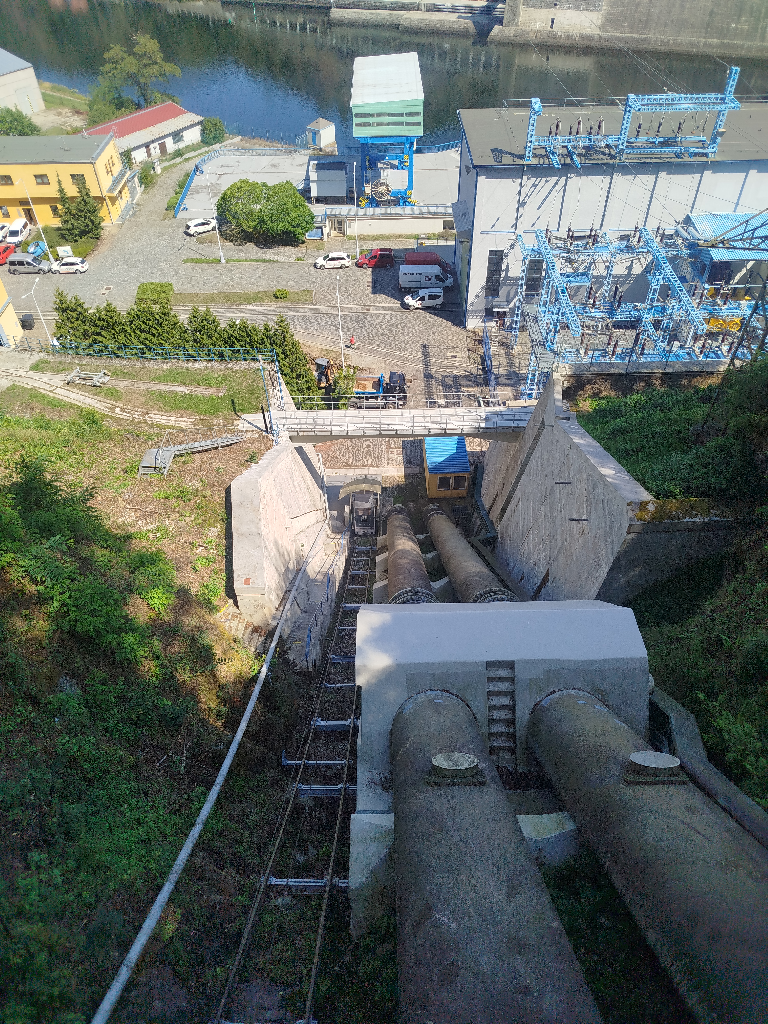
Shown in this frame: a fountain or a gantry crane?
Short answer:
gantry crane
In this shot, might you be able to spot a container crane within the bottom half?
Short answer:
No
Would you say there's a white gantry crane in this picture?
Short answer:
Yes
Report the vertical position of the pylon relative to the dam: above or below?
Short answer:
below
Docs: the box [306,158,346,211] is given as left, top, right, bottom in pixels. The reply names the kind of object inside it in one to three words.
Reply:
building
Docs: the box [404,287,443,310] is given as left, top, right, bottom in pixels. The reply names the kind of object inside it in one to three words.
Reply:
vehicle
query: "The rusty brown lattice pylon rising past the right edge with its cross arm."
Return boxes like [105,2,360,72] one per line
[691,212,768,446]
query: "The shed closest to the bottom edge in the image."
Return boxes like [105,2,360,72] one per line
[422,436,470,497]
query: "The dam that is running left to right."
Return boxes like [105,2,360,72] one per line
[496,0,768,57]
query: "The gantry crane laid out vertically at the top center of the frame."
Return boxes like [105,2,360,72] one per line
[349,53,425,212]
